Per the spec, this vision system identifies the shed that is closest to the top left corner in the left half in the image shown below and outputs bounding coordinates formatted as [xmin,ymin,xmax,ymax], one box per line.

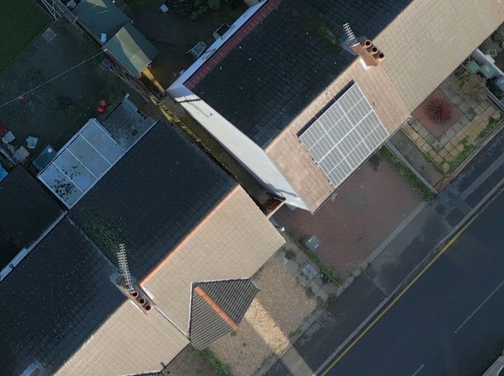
[72,0,130,43]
